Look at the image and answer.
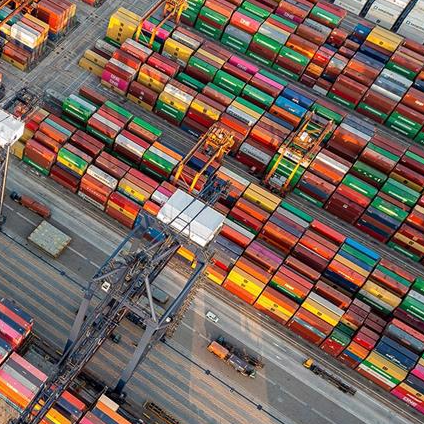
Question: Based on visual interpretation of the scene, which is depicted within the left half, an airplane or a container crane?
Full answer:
The one visible within the left half is a container crane.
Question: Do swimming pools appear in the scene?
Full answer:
No, I can see no swimming pool in this picture.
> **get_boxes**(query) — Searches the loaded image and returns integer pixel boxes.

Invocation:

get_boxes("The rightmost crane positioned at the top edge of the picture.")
[133,0,188,50]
